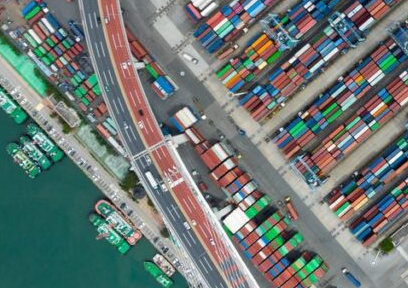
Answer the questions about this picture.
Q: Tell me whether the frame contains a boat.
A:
Yes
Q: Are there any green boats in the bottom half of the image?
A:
Yes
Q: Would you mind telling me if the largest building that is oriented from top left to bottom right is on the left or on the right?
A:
left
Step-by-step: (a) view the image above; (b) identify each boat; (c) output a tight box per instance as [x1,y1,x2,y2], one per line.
[25,121,64,162]
[18,135,53,171]
[144,262,174,288]
[90,215,127,253]
[0,88,25,125]
[94,198,141,247]
[6,143,41,179]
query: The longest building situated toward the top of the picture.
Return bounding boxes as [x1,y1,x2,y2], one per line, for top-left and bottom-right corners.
[51,95,83,126]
